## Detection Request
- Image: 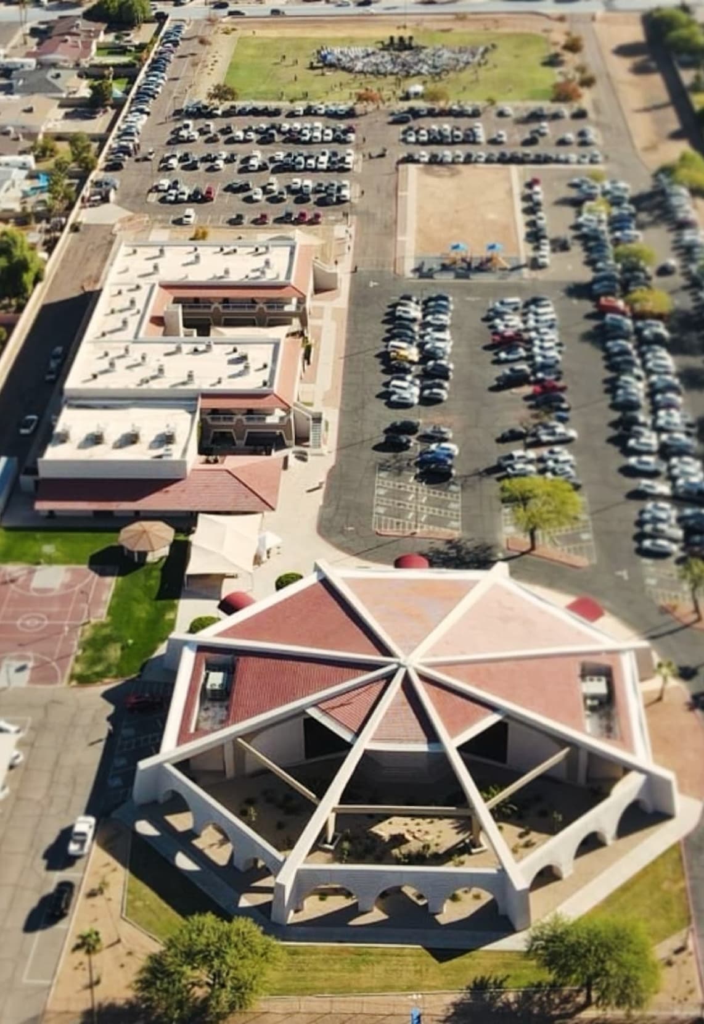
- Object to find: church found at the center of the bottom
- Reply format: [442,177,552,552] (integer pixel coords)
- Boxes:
[133,558,680,931]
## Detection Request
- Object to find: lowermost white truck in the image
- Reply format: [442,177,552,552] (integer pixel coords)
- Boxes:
[65,817,97,861]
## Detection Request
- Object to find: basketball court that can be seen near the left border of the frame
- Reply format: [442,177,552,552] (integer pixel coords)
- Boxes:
[0,565,120,686]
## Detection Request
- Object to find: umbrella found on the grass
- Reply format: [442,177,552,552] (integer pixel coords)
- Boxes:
[120,525,172,568]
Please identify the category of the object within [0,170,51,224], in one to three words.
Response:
house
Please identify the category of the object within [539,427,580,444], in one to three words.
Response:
vehicle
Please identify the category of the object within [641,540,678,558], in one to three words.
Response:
car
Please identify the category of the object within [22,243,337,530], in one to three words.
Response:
building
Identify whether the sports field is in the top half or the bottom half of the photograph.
top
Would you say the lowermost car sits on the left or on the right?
left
